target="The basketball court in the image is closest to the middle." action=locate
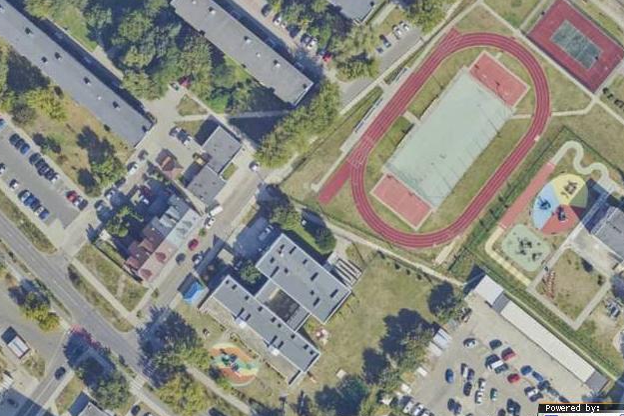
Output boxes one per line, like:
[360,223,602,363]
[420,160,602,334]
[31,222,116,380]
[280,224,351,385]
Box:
[370,171,435,232]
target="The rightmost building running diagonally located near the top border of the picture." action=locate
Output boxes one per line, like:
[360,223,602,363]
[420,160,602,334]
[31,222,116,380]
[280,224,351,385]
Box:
[170,0,313,105]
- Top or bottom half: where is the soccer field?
top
